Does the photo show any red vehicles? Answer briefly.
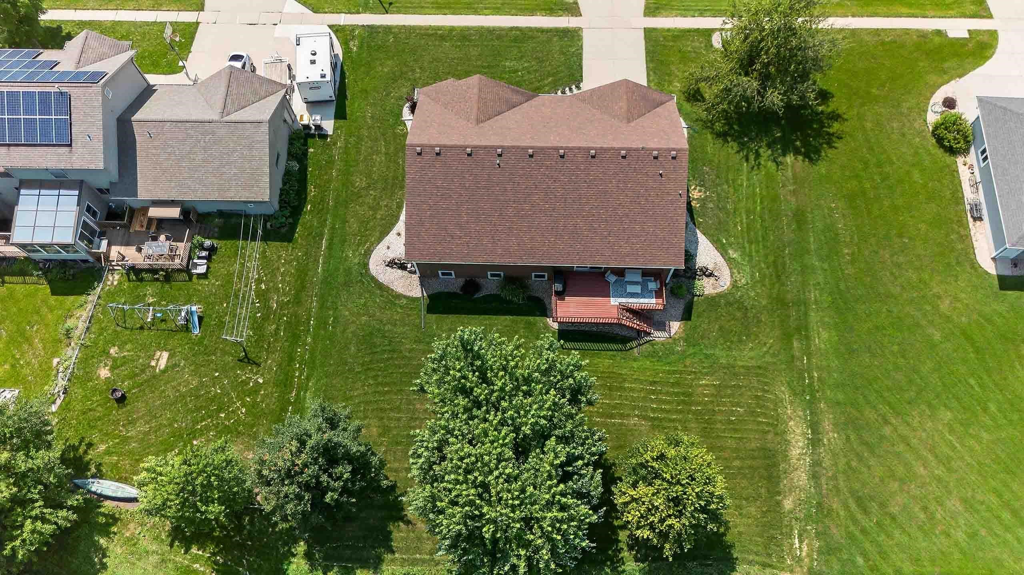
No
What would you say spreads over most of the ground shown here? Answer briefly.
grass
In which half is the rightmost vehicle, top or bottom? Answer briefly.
top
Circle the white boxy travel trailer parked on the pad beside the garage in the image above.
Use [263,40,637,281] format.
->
[293,34,341,107]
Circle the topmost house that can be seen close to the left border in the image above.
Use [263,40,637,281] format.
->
[0,30,295,216]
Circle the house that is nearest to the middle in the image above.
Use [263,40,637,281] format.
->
[403,74,688,284]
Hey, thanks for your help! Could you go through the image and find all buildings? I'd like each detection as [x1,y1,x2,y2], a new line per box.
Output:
[0,30,295,216]
[403,74,688,284]
[965,95,1024,280]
